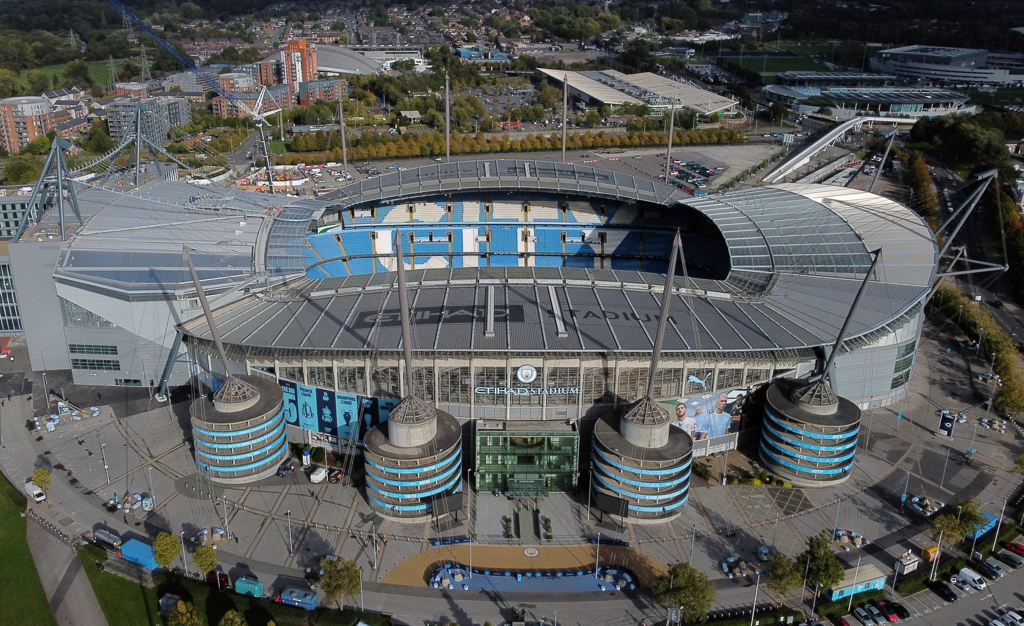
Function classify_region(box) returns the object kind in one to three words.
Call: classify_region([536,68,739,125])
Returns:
building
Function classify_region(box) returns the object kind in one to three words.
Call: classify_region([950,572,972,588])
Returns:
car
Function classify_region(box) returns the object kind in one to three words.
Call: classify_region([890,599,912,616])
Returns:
car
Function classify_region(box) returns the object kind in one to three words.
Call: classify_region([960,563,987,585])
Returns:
vehicle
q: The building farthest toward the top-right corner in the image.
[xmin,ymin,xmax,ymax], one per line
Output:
[868,45,1024,85]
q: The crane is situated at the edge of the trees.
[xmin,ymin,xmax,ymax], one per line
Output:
[110,0,285,180]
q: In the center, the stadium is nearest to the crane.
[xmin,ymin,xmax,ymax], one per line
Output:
[53,159,952,472]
